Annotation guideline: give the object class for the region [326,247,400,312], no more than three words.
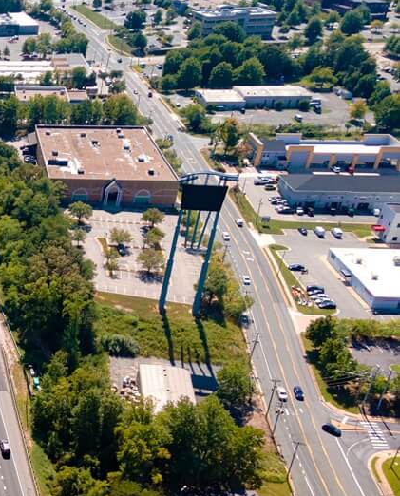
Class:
building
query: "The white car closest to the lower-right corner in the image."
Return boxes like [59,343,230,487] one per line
[276,387,289,400]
